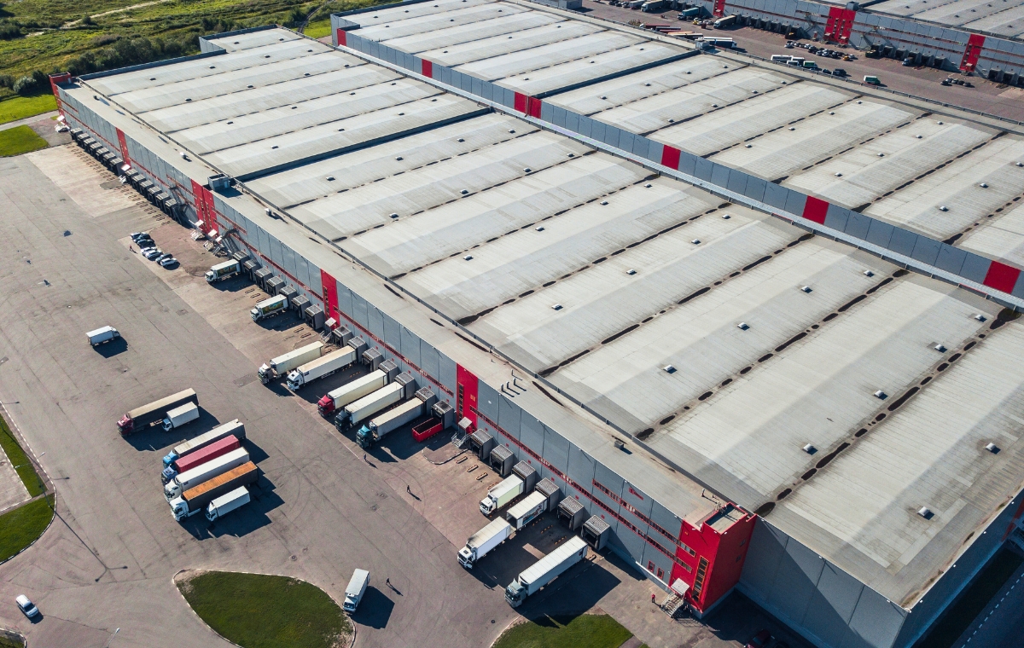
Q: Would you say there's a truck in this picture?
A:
Yes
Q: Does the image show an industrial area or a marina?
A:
industrial area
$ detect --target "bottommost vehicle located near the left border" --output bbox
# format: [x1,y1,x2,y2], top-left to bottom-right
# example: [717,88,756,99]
[14,590,33,618]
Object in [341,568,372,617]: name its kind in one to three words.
truck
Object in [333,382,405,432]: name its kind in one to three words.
truck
